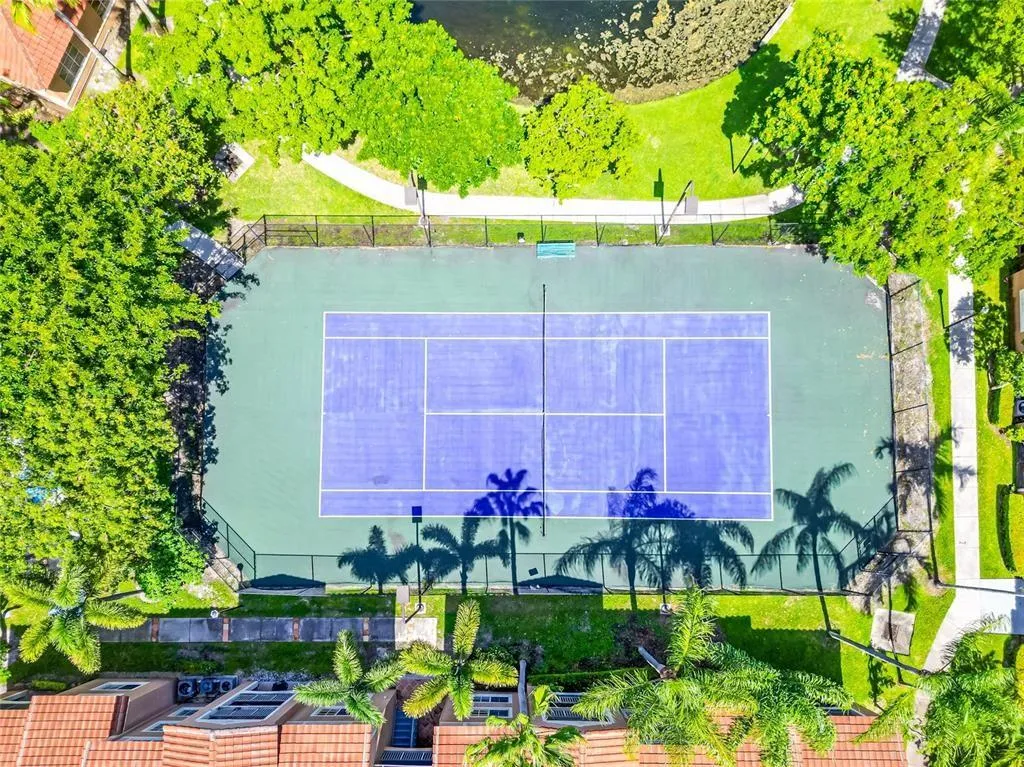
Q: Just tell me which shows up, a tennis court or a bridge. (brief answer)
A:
tennis court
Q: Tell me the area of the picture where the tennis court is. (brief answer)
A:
center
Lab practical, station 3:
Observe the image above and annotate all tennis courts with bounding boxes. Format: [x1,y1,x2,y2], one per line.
[203,247,898,591]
